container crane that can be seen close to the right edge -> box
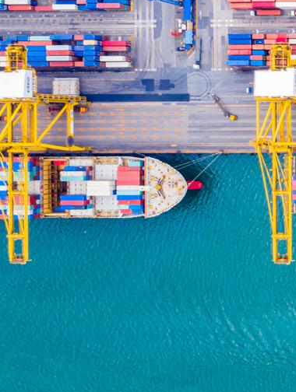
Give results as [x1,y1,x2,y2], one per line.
[246,41,296,264]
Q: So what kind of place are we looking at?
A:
port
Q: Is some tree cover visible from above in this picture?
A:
No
